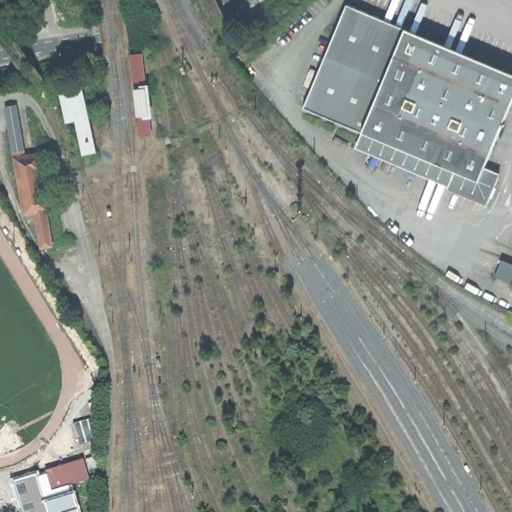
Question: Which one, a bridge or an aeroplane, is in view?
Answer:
bridge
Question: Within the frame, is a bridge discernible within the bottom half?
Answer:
No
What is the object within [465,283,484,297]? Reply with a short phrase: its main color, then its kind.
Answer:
white vehicle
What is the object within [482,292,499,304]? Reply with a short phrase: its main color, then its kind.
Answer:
white vehicle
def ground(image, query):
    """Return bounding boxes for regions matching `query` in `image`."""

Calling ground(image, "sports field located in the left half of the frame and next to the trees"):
[0,228,86,468]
